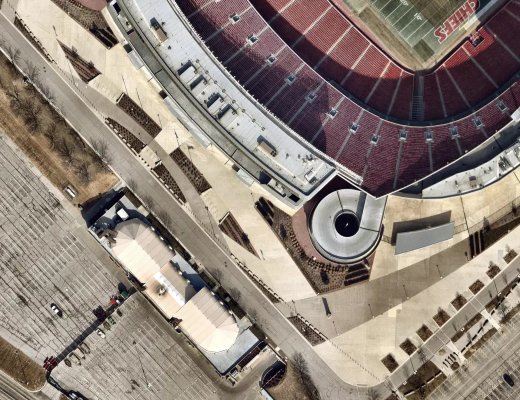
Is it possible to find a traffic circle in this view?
No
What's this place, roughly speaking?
sports ground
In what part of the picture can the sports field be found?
top right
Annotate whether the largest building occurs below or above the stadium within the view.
below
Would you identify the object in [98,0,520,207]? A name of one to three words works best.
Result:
stadium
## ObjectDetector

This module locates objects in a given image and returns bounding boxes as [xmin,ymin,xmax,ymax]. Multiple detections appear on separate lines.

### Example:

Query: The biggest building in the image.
[88,196,265,377]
